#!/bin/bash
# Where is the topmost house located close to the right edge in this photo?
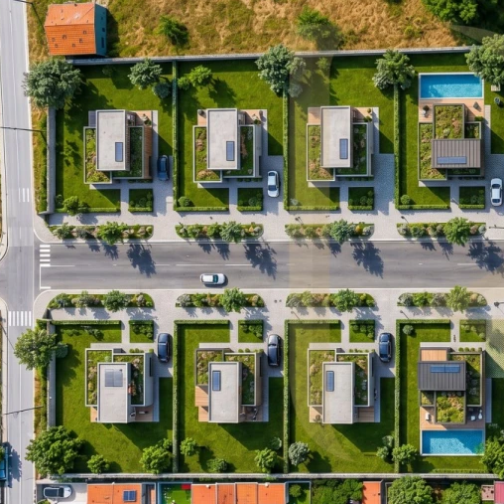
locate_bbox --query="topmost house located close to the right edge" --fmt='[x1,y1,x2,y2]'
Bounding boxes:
[419,100,486,181]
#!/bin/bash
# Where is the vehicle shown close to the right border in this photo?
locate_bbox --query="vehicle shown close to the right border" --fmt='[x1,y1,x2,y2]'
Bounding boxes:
[490,178,504,206]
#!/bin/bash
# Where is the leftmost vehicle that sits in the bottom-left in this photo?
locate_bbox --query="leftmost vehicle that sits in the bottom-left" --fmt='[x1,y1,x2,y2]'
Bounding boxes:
[42,485,72,499]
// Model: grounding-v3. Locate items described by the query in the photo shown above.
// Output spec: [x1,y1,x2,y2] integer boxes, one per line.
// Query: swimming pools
[421,429,485,456]
[419,72,484,100]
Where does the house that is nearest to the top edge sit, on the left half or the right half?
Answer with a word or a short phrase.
left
